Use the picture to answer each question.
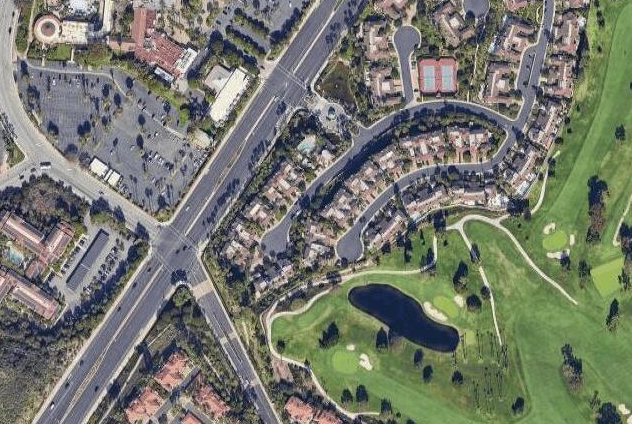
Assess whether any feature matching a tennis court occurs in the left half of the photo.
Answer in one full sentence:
No, there is no tennis court in the left half of the photo.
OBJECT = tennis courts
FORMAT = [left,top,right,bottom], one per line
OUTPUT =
[438,58,457,93]
[418,58,438,93]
